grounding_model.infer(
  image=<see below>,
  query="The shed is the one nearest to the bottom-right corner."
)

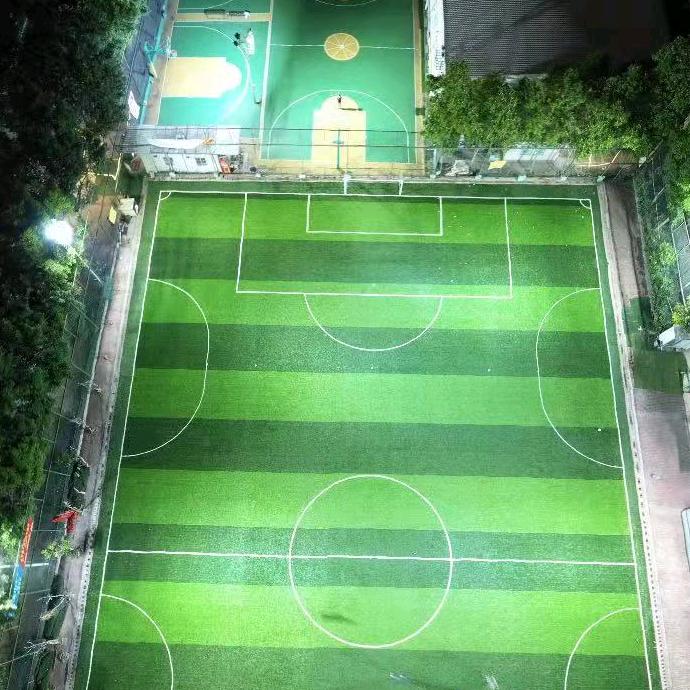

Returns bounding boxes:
[653,325,690,366]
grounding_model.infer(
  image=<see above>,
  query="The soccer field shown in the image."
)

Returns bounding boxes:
[70,177,665,690]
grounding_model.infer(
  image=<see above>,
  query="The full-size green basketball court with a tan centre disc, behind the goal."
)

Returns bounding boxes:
[257,0,429,172]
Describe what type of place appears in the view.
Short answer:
sports ground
